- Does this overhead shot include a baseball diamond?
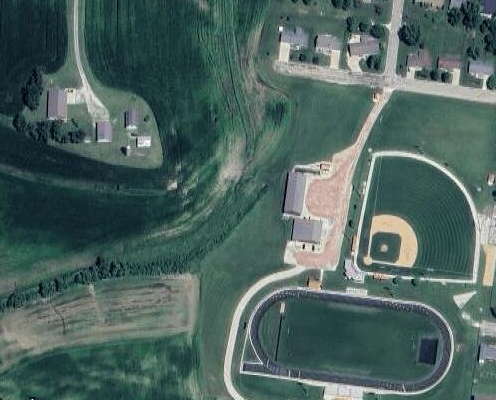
Yes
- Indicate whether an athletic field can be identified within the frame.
Yes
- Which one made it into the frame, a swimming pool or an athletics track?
athletics track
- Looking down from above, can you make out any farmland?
Yes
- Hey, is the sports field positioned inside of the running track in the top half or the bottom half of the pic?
bottom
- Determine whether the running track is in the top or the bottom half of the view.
bottom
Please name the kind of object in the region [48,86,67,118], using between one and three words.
barn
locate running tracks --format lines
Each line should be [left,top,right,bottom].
[242,285,454,394]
